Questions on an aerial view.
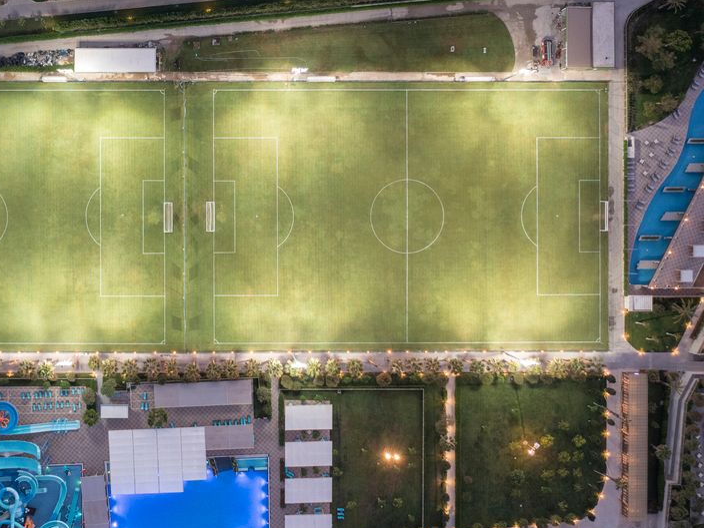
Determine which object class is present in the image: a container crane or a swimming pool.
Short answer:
swimming pool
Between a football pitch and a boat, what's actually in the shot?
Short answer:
football pitch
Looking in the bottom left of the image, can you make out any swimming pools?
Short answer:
Yes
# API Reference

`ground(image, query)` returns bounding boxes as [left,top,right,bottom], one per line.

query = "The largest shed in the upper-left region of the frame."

[74,48,156,74]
